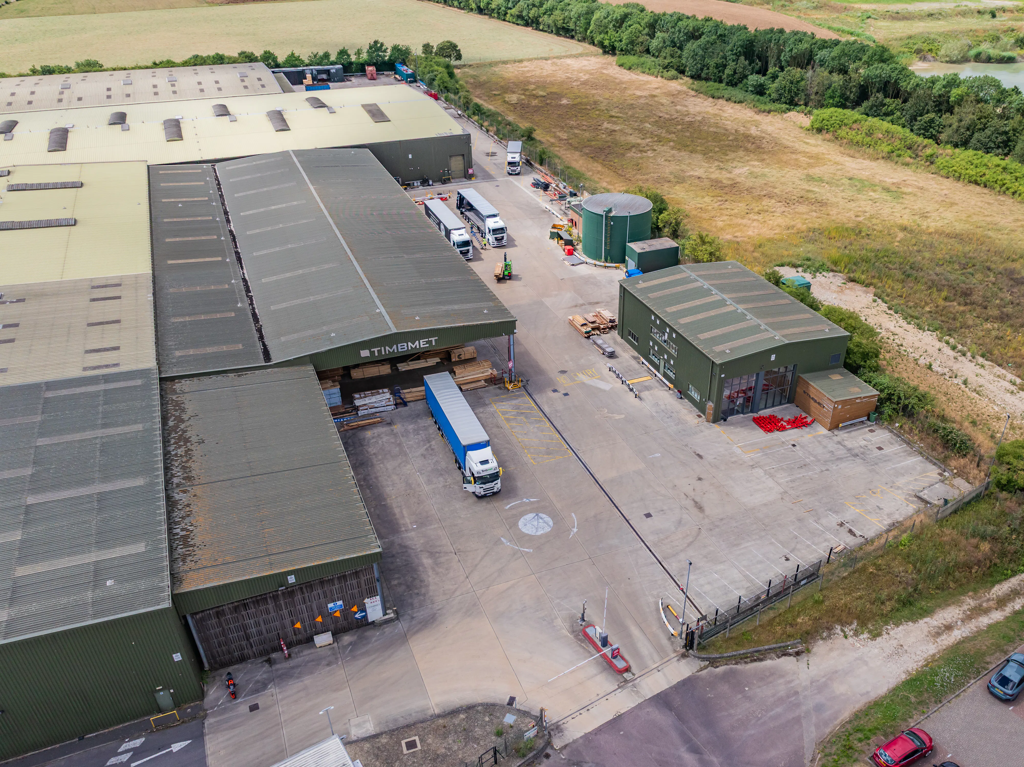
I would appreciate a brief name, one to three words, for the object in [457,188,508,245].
truck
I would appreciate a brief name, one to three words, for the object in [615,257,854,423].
building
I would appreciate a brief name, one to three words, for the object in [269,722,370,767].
building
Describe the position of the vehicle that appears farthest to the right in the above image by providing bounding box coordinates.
[984,656,1024,703]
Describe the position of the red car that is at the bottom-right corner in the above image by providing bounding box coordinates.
[870,726,937,767]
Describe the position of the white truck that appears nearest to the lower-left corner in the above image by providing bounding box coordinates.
[424,371,503,495]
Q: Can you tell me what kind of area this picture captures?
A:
industrial area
